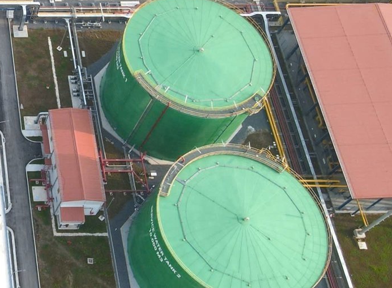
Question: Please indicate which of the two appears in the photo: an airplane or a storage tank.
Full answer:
It is a storage tank that can be seen here.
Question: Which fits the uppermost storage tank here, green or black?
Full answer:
The color of the uppermost storage tank is green.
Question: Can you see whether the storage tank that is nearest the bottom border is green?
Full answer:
Yes, the storage tank that is nearest the bottom border appears green.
